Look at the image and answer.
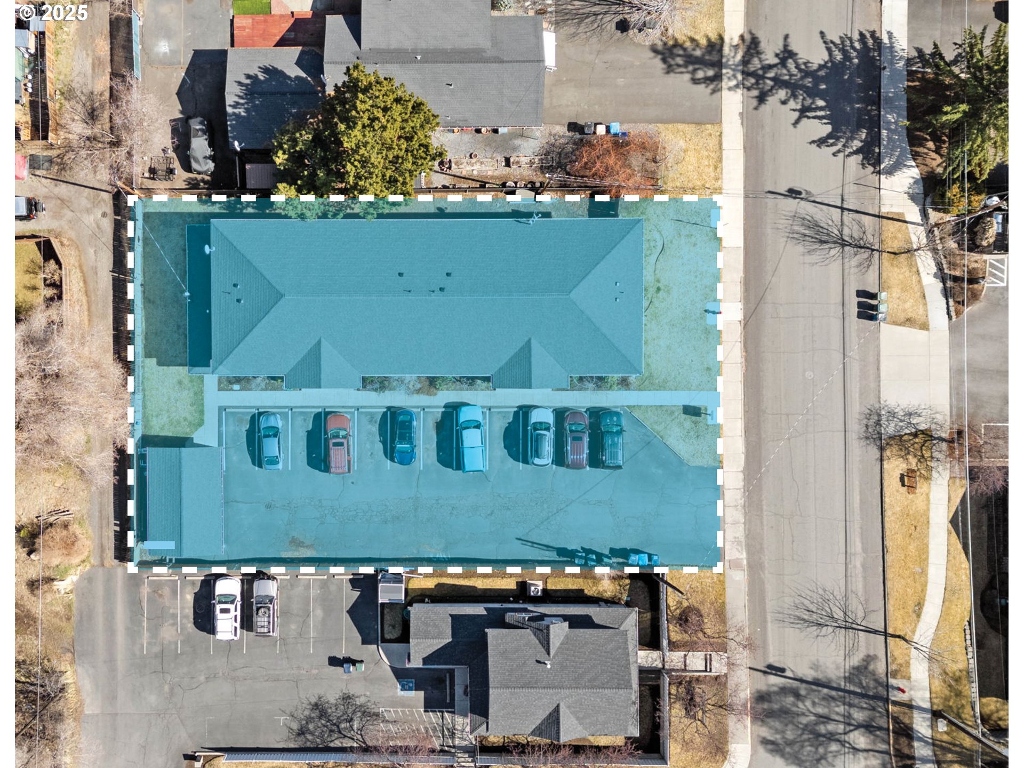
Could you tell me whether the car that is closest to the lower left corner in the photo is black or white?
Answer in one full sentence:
The car that is closest to the lower left corner is white.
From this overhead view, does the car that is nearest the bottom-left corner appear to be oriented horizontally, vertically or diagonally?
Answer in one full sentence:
From this overhead view, the car that is nearest the bottom-left corner appears to run vertically.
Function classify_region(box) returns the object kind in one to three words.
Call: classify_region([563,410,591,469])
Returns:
car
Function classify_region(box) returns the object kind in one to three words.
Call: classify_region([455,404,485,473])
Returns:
truck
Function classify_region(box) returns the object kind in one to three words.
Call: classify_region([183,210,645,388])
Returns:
building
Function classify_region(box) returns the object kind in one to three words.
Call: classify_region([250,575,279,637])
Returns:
car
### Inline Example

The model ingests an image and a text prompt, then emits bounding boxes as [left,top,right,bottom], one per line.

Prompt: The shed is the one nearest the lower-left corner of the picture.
[146,447,228,558]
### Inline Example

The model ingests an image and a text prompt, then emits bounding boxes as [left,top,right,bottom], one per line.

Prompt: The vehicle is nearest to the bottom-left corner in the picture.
[212,577,243,641]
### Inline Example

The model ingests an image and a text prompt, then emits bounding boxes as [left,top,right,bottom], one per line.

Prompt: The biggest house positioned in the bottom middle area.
[408,600,640,743]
